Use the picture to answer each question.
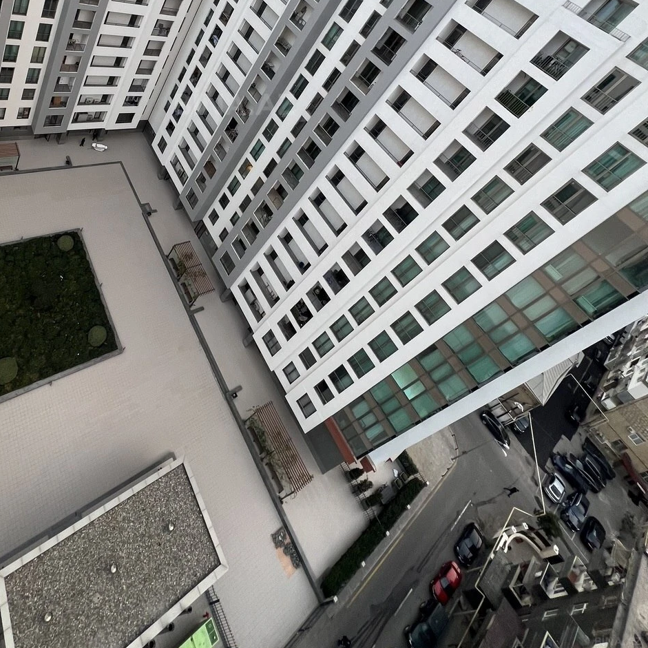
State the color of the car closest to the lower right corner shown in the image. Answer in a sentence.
In this view, the car closest to the lower right corner is black.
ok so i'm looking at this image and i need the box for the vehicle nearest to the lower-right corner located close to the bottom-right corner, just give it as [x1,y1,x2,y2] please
[580,520,609,559]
